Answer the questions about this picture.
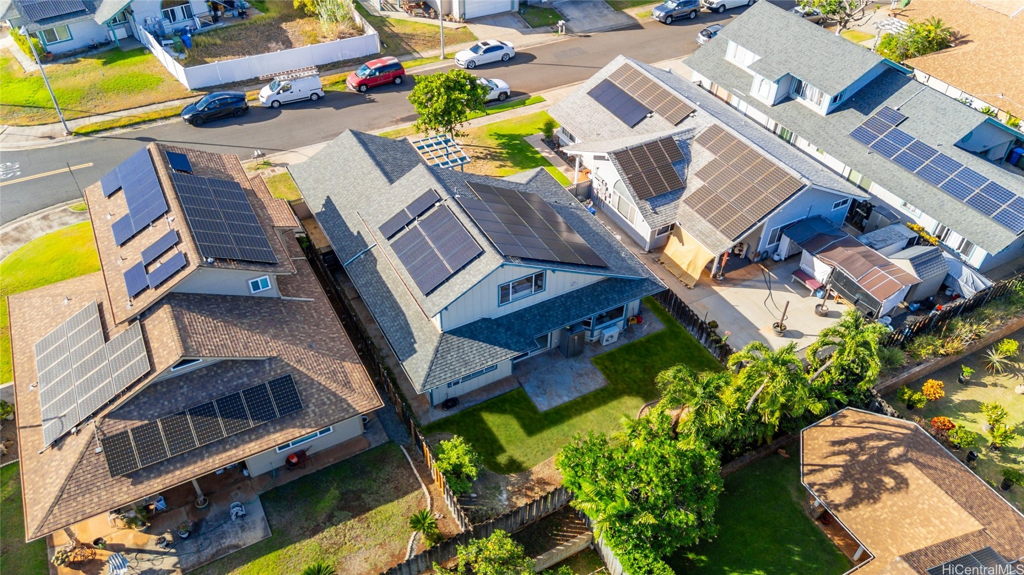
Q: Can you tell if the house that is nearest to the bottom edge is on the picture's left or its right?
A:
right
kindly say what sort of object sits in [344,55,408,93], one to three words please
car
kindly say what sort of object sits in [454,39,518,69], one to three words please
car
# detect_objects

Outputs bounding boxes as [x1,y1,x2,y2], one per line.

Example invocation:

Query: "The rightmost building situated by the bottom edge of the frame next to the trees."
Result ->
[797,404,1024,575]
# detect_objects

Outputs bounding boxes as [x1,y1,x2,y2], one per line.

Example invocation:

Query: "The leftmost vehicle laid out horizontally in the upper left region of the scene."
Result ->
[179,90,251,128]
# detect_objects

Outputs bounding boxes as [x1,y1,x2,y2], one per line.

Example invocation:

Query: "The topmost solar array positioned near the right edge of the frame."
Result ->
[849,107,1024,227]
